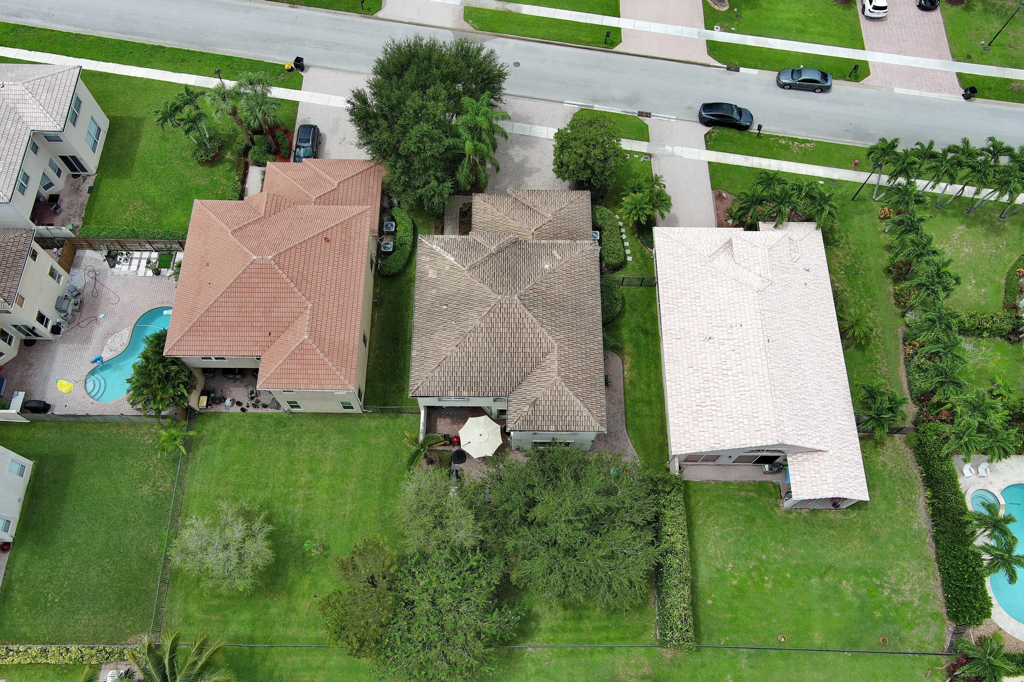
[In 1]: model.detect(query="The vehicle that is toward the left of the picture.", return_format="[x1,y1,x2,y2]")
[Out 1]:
[292,117,324,162]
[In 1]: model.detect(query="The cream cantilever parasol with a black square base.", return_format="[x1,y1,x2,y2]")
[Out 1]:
[450,415,502,466]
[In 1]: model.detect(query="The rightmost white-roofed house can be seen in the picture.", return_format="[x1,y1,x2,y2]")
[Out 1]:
[651,220,871,508]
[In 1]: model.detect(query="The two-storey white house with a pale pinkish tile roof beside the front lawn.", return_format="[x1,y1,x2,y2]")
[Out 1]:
[0,62,110,240]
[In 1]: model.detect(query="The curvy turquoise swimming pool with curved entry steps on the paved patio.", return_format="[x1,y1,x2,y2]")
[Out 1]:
[72,303,172,406]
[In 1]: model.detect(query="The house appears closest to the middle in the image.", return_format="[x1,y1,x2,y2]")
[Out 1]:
[408,188,609,452]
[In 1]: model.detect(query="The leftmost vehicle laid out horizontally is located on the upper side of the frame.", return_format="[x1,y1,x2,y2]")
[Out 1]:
[700,102,755,130]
